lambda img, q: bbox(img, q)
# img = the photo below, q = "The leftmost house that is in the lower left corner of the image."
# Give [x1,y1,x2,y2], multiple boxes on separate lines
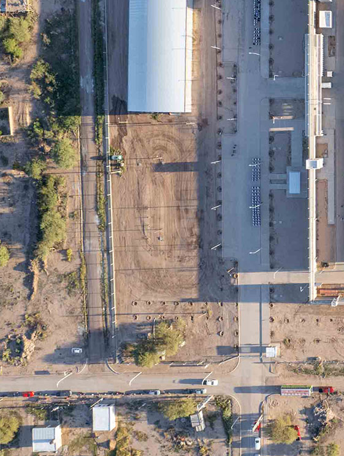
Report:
[32,422,61,451]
